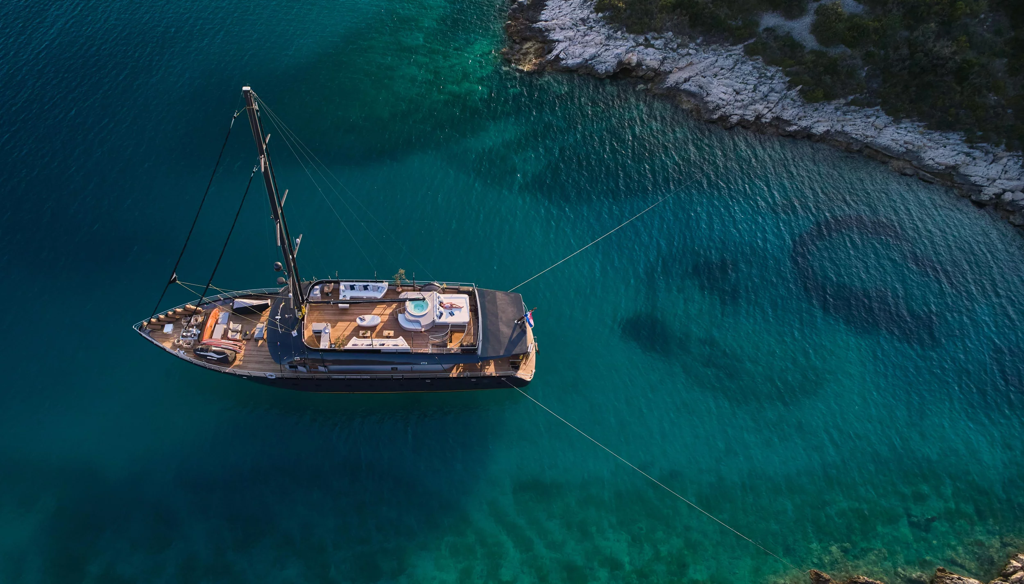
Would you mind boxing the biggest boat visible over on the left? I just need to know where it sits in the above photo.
[136,80,541,394]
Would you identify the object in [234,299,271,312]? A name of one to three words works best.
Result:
boat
